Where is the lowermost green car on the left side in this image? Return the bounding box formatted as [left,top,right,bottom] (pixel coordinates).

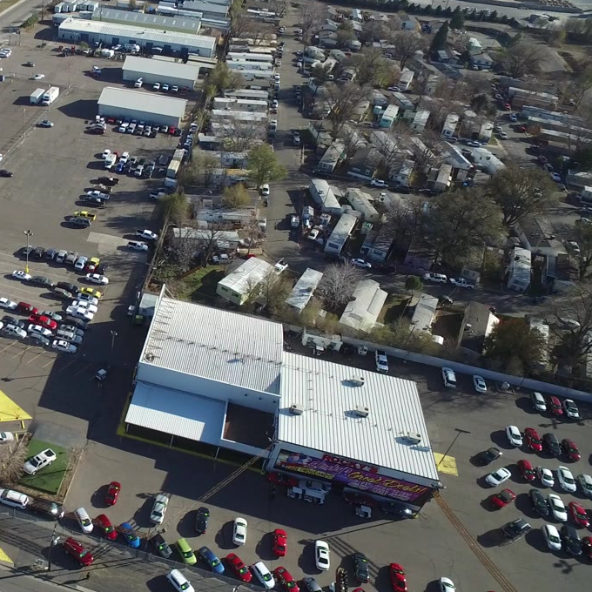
[173,538,197,567]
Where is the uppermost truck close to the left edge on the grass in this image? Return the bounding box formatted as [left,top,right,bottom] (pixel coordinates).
[21,448,58,472]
